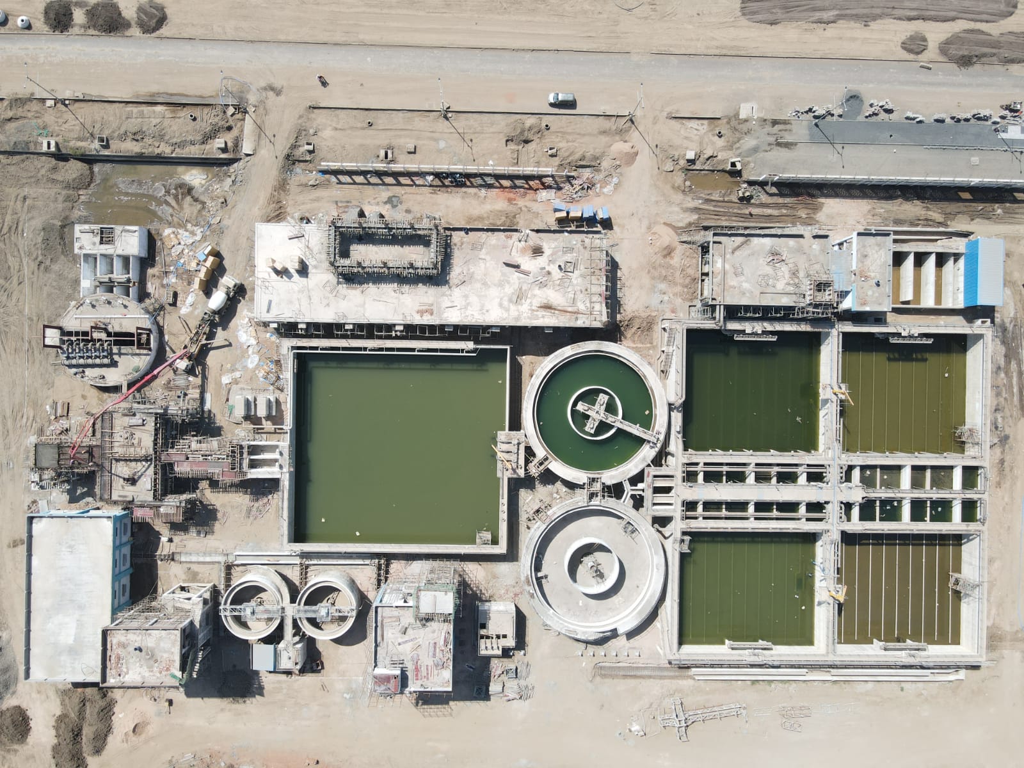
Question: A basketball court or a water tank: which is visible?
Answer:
water tank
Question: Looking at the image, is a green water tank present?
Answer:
Yes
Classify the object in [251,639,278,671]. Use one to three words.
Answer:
shed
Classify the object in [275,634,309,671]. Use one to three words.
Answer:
building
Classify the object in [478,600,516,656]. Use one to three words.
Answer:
building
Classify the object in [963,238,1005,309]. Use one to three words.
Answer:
shed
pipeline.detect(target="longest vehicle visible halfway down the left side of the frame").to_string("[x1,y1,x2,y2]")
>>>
[69,314,233,464]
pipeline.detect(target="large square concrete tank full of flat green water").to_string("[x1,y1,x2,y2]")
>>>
[256,339,525,555]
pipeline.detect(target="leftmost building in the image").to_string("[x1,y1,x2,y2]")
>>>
[25,509,137,682]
